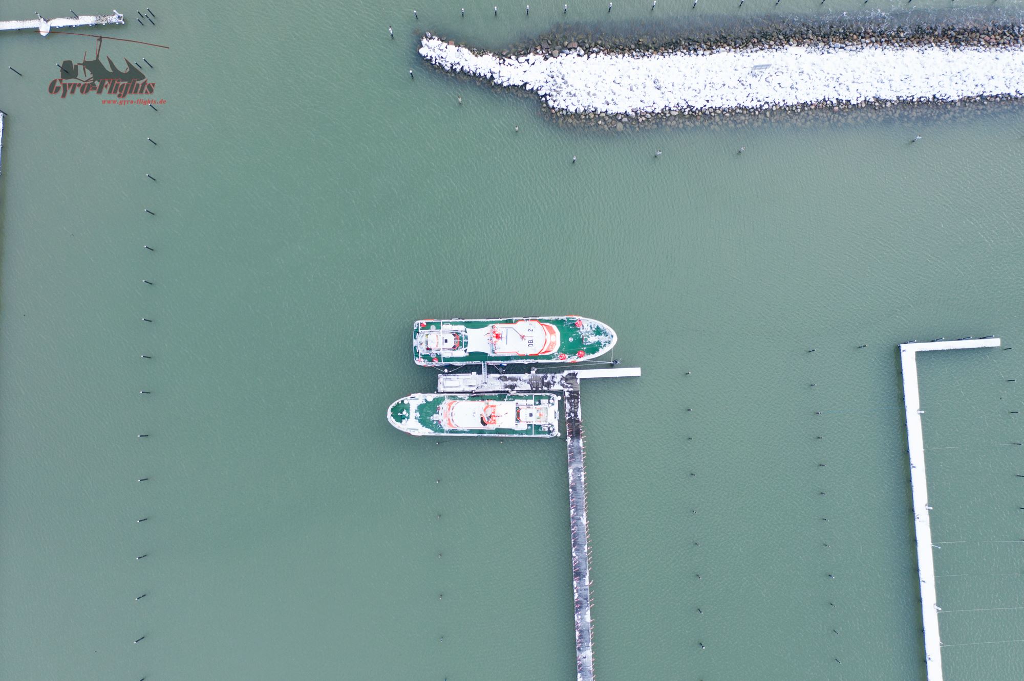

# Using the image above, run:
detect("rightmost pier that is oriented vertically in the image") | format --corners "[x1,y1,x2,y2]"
[897,338,1000,681]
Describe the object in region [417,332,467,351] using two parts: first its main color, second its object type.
white boat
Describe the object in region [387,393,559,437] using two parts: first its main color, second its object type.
white ship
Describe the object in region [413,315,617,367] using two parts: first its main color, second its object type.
white ship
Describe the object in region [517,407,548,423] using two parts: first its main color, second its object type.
white boat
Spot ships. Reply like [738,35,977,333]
[413,315,617,367]
[387,393,559,437]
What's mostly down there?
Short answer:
water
